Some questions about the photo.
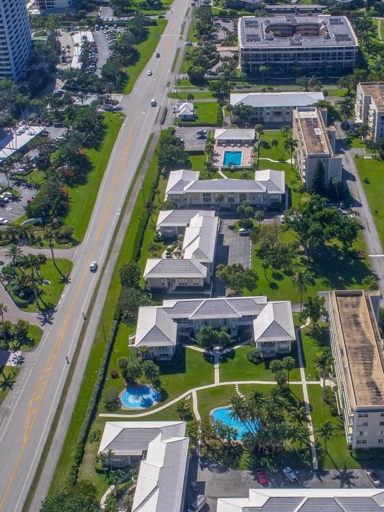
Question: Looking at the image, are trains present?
No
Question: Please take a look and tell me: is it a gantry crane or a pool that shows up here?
pool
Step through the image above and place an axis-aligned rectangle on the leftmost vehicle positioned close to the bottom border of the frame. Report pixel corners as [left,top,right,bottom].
[186,492,206,512]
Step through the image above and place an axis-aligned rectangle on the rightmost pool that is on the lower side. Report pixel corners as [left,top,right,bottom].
[209,404,262,442]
